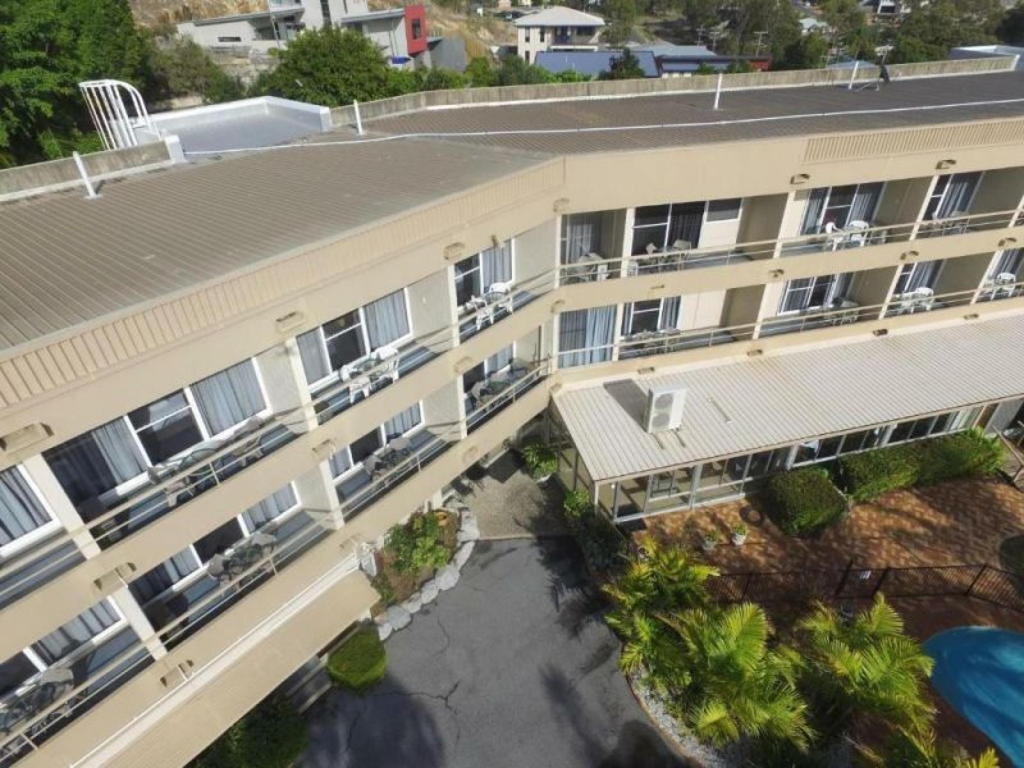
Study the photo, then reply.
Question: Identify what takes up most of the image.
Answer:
buildings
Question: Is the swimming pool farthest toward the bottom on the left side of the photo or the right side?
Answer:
right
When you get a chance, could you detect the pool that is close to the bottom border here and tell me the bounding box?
[920,623,1024,768]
